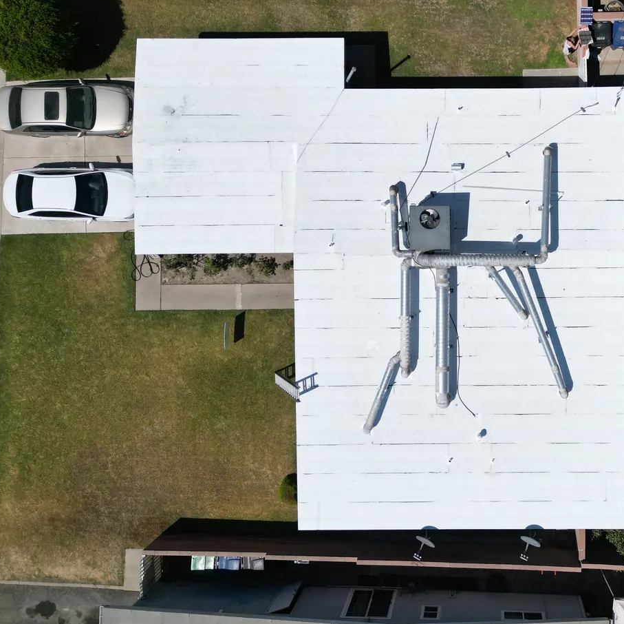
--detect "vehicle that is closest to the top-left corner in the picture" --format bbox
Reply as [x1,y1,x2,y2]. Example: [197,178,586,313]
[0,77,133,141]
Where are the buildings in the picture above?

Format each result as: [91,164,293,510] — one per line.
[97,584,611,624]
[131,39,624,530]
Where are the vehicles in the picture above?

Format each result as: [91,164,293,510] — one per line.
[0,77,133,141]
[2,164,134,228]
